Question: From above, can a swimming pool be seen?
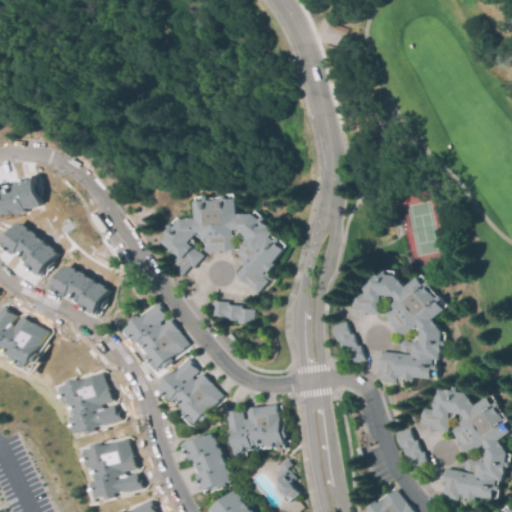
Yes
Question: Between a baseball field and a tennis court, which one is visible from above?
tennis court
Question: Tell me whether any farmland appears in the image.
No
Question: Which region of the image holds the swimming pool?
bottom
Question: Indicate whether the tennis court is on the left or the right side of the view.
right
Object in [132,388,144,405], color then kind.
white vehicle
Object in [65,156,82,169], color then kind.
white vehicle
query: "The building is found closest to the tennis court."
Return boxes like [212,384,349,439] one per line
[354,268,446,385]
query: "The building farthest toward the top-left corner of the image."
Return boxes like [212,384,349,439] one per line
[0,178,45,214]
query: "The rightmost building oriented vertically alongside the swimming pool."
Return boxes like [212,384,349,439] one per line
[279,459,302,500]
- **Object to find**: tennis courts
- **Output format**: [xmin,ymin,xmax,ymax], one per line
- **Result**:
[406,194,446,264]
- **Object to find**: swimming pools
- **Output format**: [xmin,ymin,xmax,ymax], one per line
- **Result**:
[254,472,282,510]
